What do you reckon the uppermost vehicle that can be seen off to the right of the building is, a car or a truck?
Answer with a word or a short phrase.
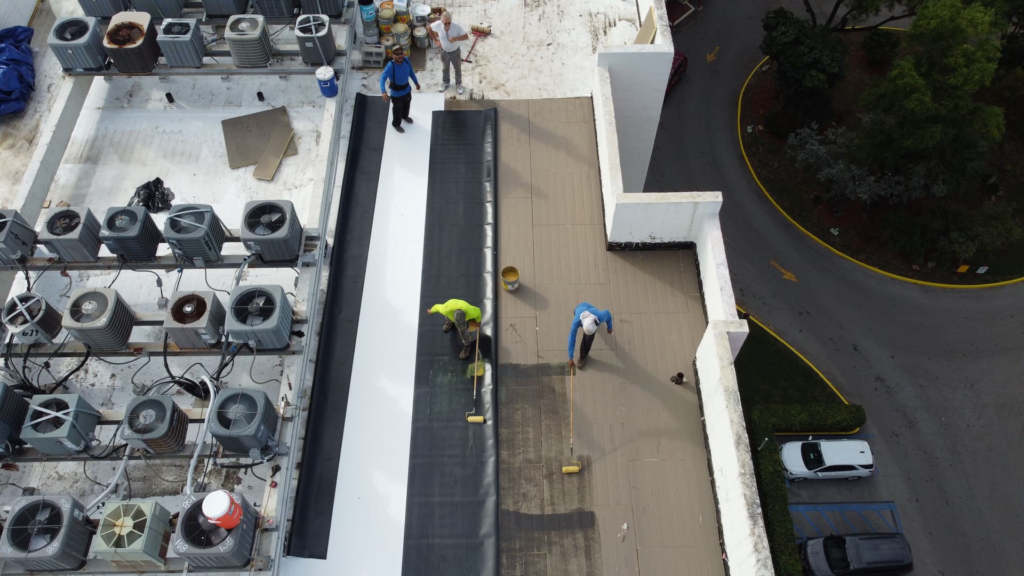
car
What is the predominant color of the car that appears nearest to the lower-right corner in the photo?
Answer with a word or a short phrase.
black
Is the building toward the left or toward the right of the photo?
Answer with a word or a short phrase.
right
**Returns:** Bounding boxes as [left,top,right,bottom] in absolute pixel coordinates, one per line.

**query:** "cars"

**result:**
[662,56,689,110]
[800,524,920,576]
[780,435,878,485]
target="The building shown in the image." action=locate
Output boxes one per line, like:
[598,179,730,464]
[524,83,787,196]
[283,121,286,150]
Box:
[589,0,777,576]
